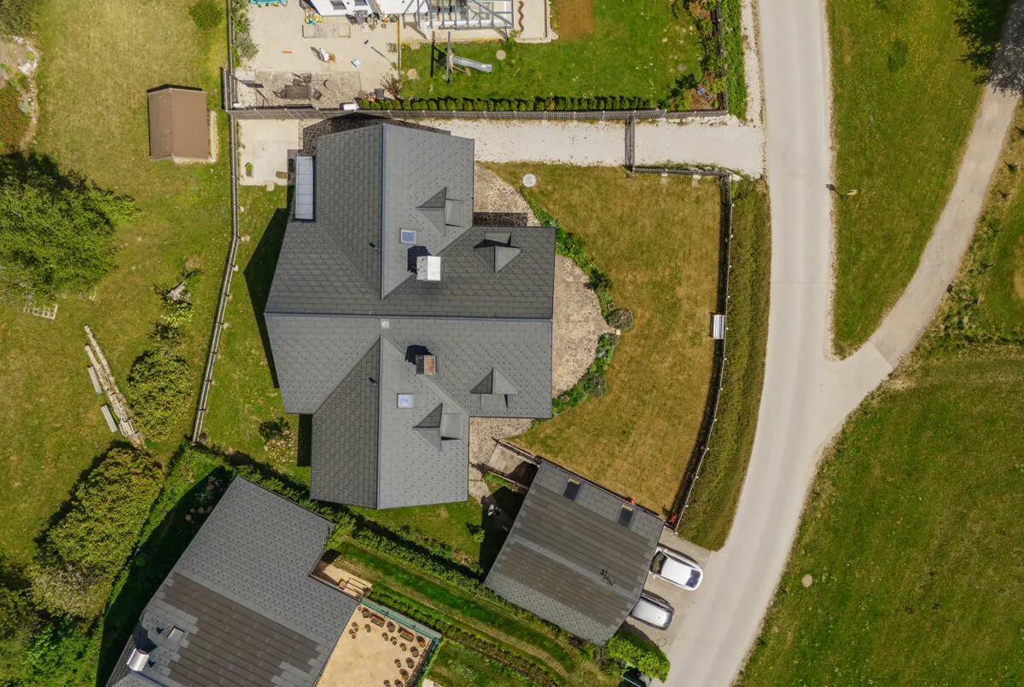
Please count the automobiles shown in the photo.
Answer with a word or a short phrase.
2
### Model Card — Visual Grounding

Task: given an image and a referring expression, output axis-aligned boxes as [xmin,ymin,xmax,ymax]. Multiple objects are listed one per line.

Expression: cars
[624,587,674,629]
[645,543,705,593]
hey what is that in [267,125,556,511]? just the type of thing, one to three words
house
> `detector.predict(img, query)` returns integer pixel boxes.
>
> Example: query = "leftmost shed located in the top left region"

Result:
[146,87,221,169]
